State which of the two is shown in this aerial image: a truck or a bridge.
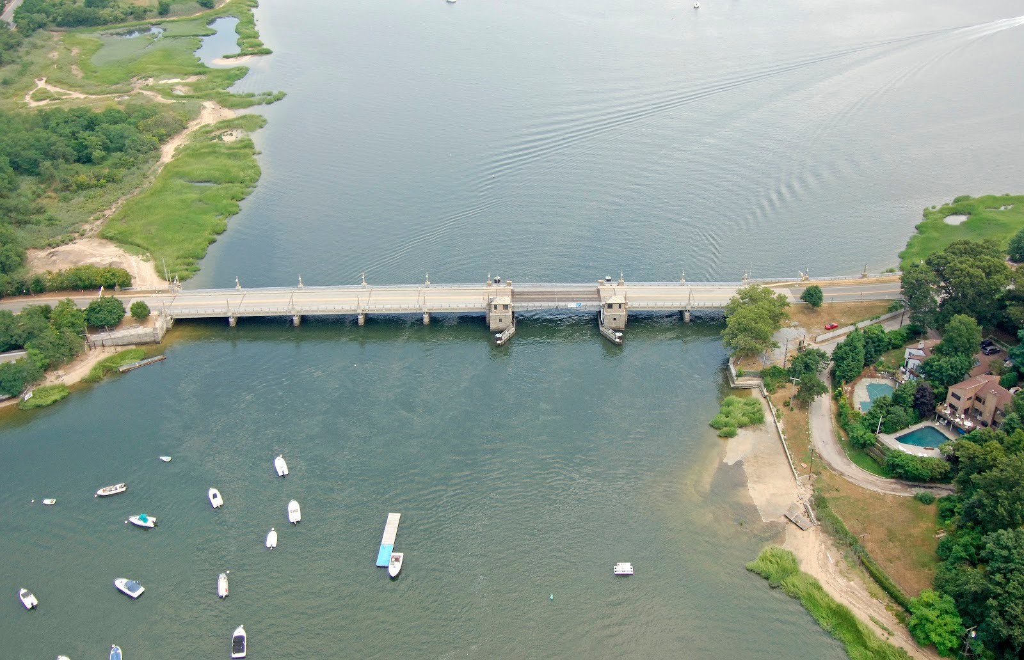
bridge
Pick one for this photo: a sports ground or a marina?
marina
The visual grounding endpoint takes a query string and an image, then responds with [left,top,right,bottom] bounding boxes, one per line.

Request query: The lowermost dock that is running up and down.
[378,513,401,568]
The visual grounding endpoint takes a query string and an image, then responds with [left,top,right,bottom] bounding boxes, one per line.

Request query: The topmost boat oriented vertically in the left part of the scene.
[275,454,288,479]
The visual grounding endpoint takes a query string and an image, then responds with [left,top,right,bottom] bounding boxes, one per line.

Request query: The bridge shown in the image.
[147,276,815,328]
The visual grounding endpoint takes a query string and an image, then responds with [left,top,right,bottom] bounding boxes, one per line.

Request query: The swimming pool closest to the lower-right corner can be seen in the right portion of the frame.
[898,428,947,448]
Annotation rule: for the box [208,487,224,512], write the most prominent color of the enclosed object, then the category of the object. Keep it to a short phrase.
white boat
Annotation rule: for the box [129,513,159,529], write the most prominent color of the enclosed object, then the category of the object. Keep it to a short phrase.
white boat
